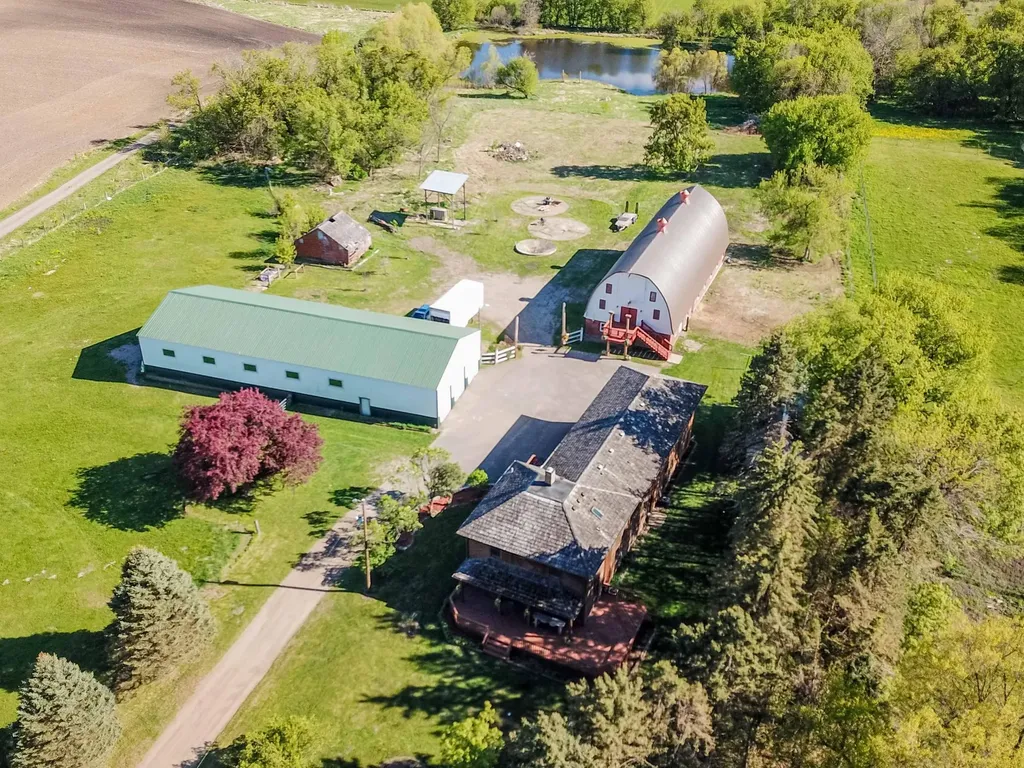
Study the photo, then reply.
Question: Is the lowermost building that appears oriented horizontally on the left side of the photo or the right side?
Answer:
left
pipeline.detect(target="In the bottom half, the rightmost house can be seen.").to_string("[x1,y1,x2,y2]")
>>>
[448,365,707,634]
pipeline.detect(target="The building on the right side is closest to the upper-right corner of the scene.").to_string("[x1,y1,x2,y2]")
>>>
[583,183,730,362]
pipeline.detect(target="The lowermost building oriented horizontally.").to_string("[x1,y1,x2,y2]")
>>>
[133,288,480,427]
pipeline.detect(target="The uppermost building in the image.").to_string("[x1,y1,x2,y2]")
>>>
[420,171,468,229]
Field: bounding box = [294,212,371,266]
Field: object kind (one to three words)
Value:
shed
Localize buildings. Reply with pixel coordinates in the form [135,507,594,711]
[294,212,371,266]
[583,183,730,362]
[448,365,707,634]
[420,171,468,229]
[133,288,480,427]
